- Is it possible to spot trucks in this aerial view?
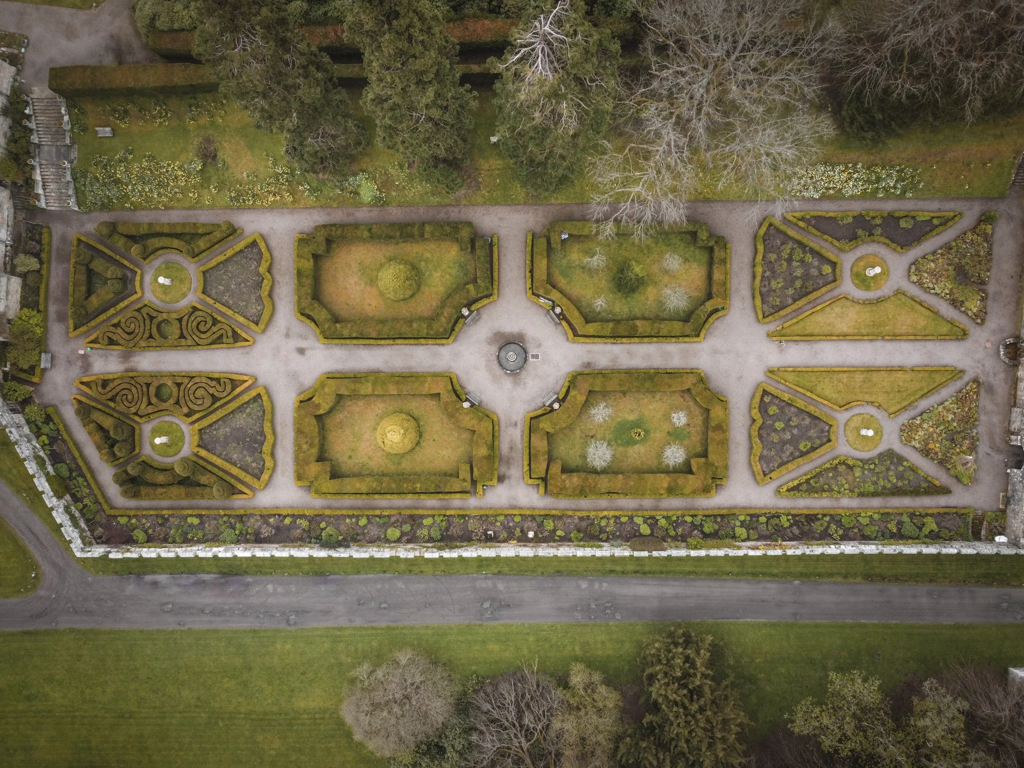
No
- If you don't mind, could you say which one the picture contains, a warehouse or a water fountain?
water fountain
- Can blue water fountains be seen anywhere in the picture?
No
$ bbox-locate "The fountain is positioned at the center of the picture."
[496,340,529,373]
